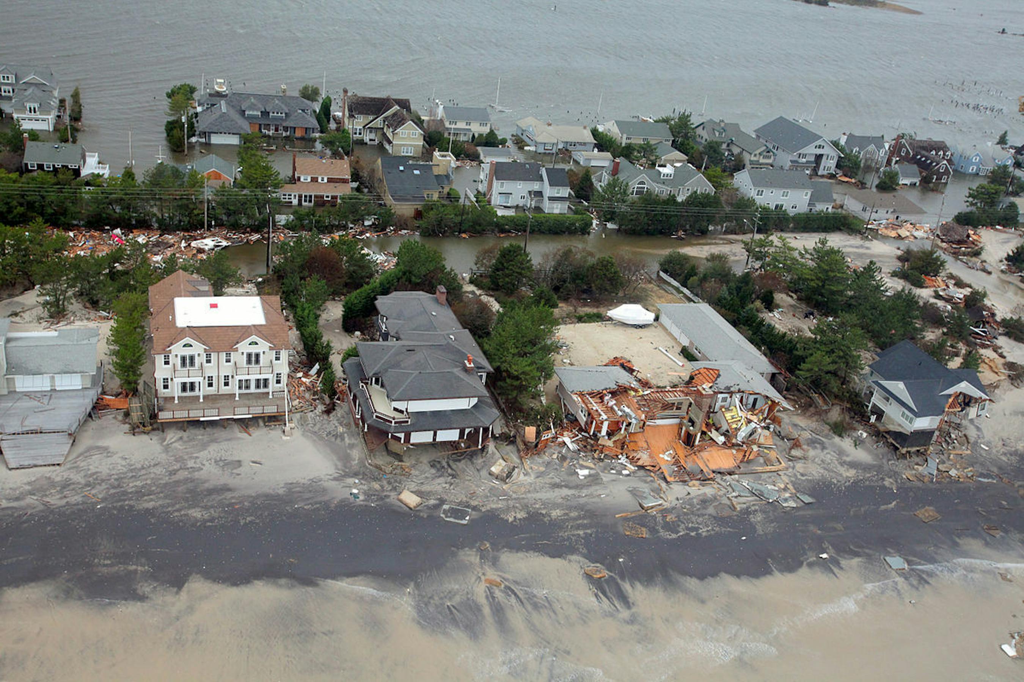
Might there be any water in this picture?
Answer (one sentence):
Yes, there is water in the image.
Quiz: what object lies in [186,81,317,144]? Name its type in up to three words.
house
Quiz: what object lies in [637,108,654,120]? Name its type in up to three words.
boat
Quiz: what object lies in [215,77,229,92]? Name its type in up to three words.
boat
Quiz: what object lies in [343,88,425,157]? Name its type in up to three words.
house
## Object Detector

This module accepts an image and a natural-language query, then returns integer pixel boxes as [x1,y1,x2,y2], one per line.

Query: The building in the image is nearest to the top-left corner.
[0,64,57,131]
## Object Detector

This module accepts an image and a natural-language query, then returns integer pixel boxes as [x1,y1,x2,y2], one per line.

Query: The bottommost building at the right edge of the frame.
[870,340,989,451]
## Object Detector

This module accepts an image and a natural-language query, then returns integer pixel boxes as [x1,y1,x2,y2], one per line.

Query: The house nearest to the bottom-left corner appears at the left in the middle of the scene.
[0,317,102,471]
